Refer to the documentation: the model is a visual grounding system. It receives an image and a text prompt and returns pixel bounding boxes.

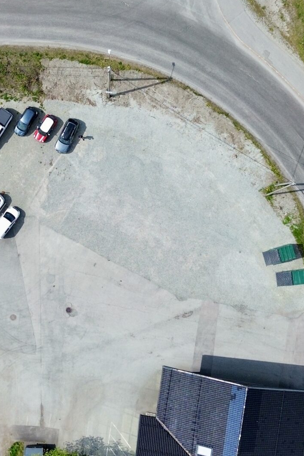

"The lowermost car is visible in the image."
[0,204,21,242]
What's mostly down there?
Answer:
paved ground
